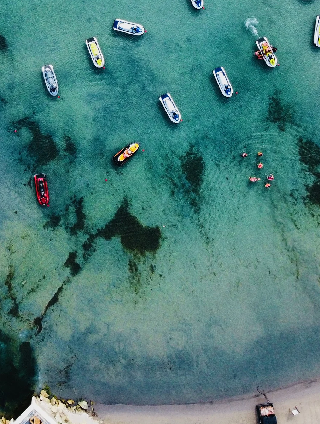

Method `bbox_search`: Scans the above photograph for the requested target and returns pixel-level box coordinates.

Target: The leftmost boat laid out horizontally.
[113,19,144,35]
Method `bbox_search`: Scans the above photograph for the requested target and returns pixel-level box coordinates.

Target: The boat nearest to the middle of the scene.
[114,141,140,165]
